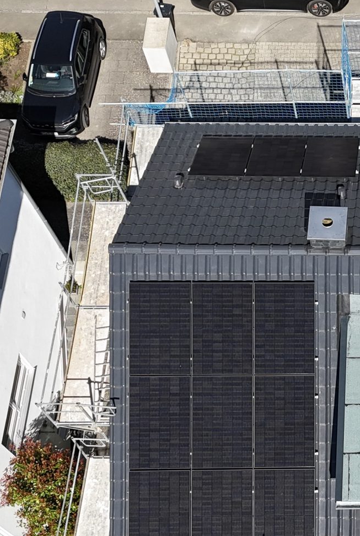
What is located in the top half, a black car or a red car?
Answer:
black car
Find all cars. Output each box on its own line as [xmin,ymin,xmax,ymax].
[188,0,351,18]
[14,2,104,147]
